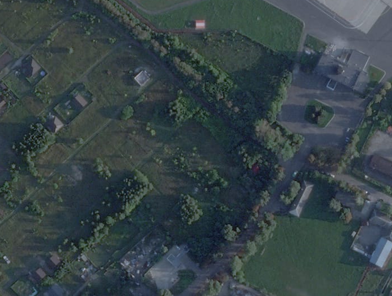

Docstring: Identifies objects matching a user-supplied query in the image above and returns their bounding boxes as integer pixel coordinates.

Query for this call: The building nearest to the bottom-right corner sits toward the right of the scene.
[370,238,392,268]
